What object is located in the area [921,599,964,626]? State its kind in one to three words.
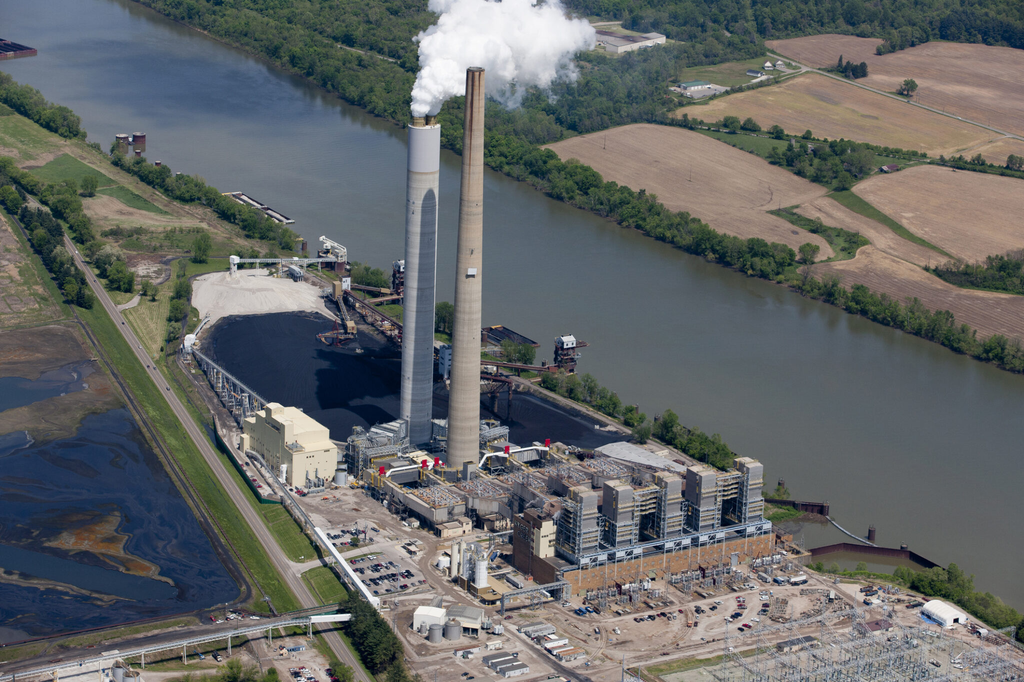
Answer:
shed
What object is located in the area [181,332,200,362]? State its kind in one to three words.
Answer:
house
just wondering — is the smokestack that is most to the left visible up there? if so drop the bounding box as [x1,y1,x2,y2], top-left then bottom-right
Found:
[399,111,440,439]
